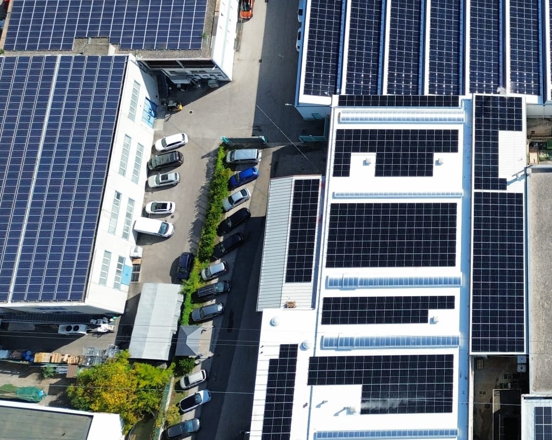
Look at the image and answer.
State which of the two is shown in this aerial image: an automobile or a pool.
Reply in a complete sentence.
The one in the frame is an automobile.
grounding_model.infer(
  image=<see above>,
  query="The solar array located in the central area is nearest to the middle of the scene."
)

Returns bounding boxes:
[286,179,319,282]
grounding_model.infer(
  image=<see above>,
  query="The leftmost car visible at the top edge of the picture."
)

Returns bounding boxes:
[237,0,255,20]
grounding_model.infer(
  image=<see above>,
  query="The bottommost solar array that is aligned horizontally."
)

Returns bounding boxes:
[307,354,453,413]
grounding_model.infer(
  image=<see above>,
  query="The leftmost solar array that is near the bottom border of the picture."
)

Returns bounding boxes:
[262,344,298,440]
